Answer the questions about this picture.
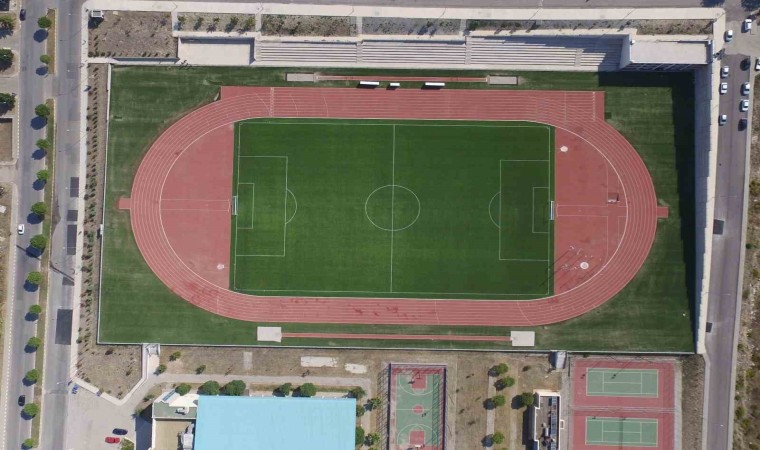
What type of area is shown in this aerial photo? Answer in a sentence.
The picture captures a sports ground.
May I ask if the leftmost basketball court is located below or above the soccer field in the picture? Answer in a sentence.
The position of the leftmost basketball court is below the soccer field.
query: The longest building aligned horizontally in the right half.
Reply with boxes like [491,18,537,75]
[620,36,711,73]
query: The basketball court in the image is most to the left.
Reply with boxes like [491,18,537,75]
[390,365,444,450]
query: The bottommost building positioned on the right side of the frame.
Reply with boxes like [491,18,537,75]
[528,389,564,450]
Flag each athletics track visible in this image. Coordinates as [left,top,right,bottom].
[118,87,668,324]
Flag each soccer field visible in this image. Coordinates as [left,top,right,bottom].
[232,119,554,299]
